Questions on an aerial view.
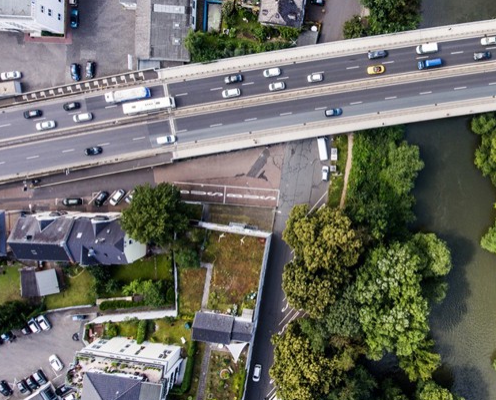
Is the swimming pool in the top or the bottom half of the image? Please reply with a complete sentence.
The top half of the photo is where the swimming pool is.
